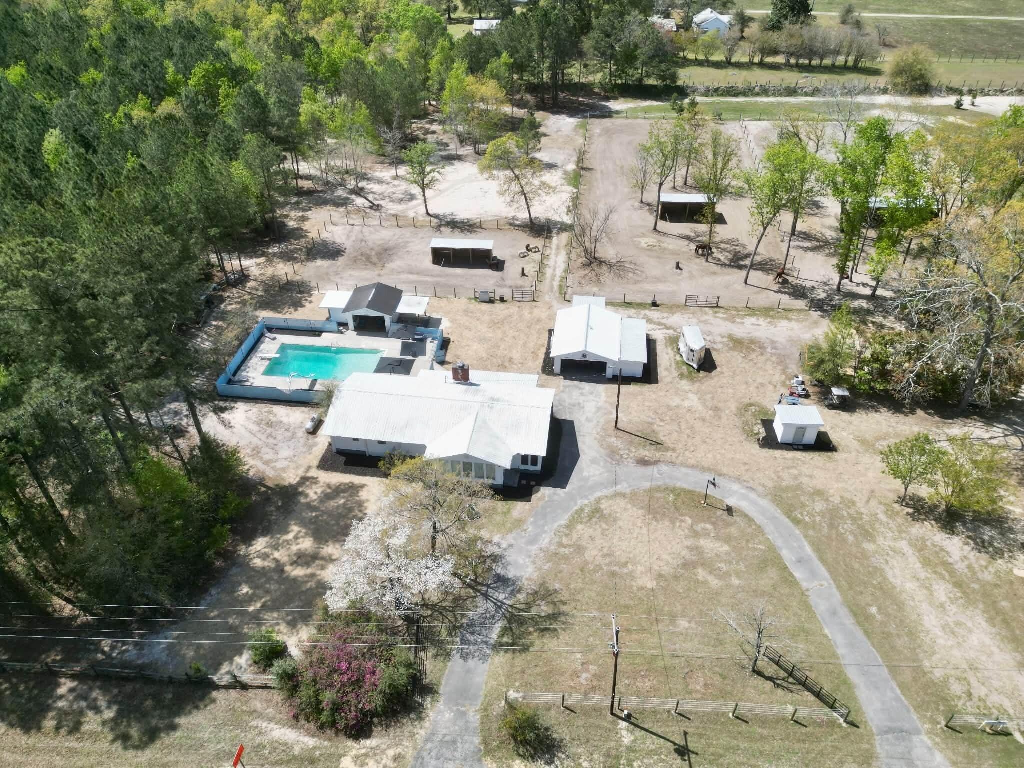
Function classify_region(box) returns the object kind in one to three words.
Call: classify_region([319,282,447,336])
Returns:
building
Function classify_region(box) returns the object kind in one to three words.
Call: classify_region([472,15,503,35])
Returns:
barn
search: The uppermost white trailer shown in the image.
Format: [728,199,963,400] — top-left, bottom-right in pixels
[677,326,705,372]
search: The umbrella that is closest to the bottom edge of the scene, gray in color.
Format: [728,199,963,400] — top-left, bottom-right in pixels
[374,356,415,376]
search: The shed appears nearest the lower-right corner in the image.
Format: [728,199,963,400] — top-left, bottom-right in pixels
[774,404,826,443]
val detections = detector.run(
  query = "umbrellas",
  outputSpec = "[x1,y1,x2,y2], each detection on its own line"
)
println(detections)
[374,356,415,376]
[386,319,416,343]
